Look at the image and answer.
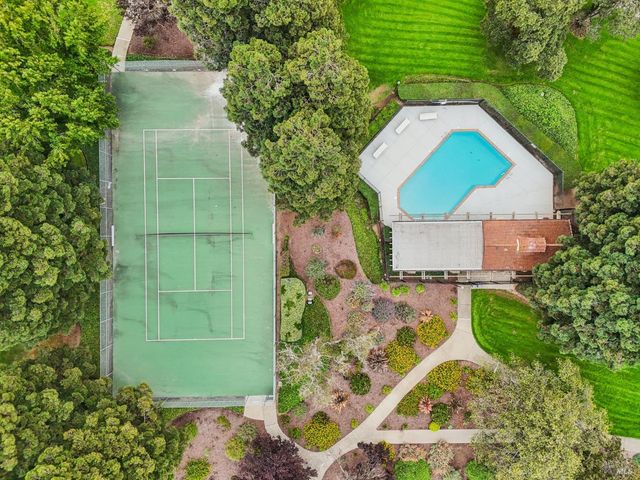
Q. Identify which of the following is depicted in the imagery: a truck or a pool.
pool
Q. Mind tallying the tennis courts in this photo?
1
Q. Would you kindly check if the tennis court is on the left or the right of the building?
left of it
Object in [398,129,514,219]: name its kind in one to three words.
swimming pool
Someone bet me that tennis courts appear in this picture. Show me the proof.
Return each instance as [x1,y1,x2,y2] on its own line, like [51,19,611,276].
[111,71,274,397]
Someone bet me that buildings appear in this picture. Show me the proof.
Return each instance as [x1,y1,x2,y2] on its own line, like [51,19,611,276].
[388,211,577,281]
